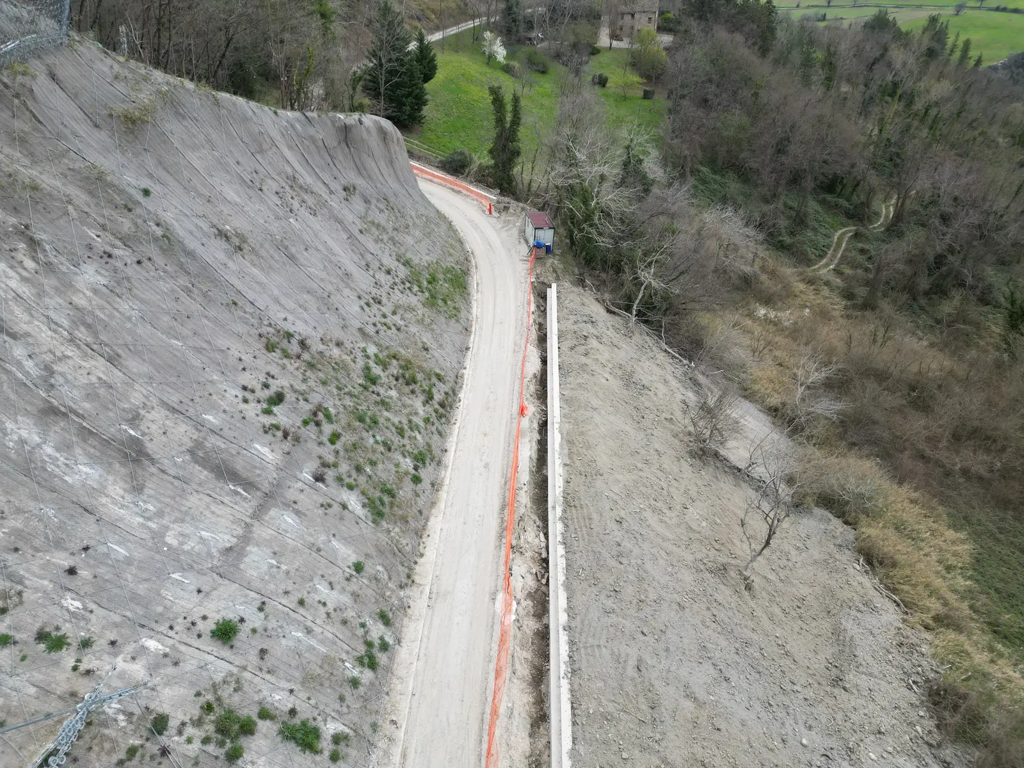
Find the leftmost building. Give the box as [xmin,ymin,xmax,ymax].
[529,213,554,250]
